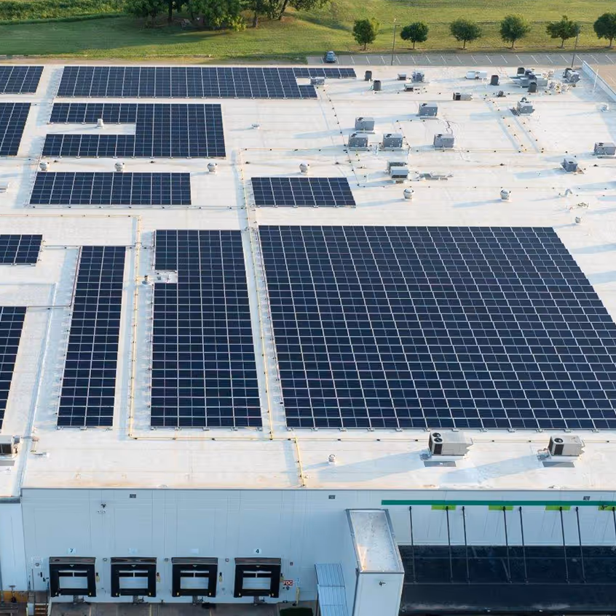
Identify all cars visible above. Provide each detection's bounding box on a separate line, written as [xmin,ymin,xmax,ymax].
[322,48,335,61]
